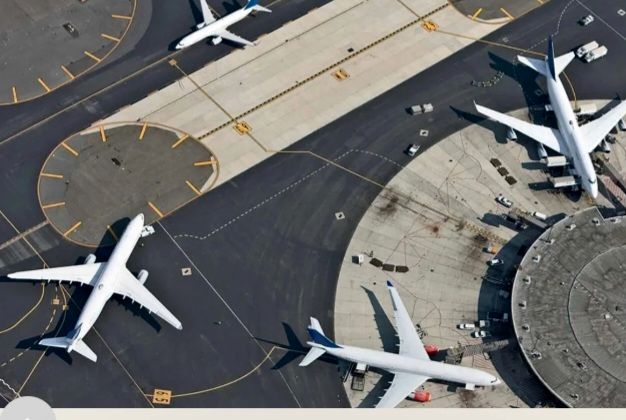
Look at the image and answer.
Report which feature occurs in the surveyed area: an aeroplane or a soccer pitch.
aeroplane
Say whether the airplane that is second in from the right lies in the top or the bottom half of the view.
bottom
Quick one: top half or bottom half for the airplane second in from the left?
top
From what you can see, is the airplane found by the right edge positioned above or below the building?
above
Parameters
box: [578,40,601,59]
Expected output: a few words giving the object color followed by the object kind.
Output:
white vehicle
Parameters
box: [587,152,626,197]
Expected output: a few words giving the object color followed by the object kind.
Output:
gray jet bridge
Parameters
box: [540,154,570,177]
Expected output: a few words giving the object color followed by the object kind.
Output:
white truck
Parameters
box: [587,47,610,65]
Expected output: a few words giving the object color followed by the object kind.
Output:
white vehicle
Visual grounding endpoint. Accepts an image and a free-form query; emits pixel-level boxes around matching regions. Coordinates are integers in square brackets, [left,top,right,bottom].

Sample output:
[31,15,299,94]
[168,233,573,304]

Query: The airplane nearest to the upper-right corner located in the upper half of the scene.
[474,34,626,202]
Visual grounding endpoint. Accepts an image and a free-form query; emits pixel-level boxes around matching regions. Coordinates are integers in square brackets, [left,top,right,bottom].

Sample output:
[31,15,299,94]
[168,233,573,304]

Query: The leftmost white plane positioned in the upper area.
[175,0,269,49]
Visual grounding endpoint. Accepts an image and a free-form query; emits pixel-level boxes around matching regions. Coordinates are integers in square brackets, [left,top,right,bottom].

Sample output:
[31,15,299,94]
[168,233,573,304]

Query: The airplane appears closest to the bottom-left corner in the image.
[9,213,182,361]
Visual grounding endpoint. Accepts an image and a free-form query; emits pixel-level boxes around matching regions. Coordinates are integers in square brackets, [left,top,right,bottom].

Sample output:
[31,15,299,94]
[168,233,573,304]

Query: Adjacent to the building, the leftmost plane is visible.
[300,276,499,420]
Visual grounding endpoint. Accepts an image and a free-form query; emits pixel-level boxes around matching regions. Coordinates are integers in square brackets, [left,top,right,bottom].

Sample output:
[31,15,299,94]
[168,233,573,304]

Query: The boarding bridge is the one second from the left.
[517,212,549,237]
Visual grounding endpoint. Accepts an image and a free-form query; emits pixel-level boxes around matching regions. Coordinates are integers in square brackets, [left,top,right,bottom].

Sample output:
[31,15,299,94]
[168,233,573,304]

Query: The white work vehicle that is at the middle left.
[141,225,158,238]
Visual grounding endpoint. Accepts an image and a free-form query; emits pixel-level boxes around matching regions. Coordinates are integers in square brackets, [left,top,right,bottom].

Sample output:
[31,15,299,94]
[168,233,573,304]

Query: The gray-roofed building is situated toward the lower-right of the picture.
[509,205,626,420]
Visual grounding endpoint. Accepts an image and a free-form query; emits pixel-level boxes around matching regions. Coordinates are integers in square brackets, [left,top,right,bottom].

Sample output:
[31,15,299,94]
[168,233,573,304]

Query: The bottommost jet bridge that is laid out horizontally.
[452,337,520,367]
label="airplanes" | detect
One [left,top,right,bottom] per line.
[474,34,626,202]
[175,0,269,49]
[9,213,182,361]
[300,276,499,420]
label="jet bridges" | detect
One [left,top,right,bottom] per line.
[452,337,520,367]
[587,152,626,197]
[517,212,549,237]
